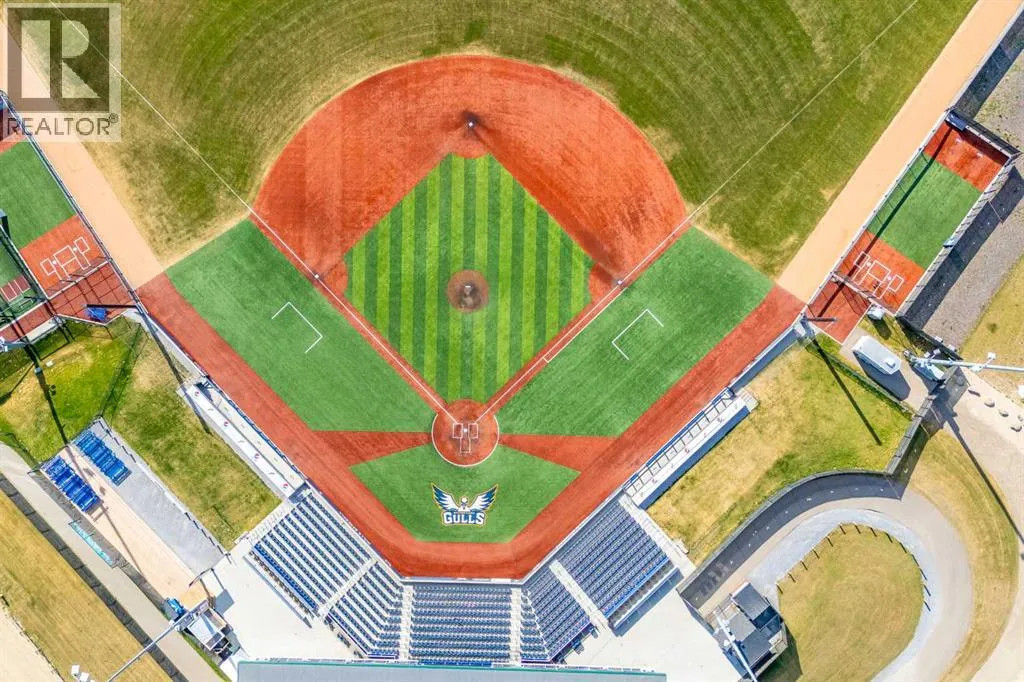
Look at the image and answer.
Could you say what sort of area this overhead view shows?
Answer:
sports ground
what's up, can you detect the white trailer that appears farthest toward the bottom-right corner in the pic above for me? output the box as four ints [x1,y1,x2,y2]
[841,330,901,374]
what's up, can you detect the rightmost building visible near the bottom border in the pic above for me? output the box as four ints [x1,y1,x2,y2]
[725,577,793,682]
